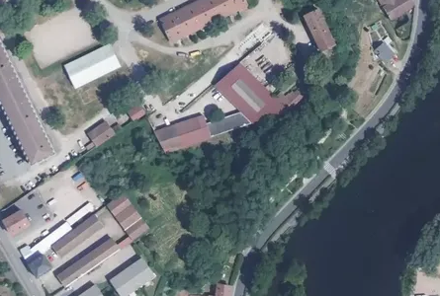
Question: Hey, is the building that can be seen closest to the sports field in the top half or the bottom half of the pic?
top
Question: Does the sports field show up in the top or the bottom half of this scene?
top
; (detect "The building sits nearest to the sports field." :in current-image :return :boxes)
[63,42,120,89]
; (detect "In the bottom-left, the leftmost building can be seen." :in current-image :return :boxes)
[0,209,30,237]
